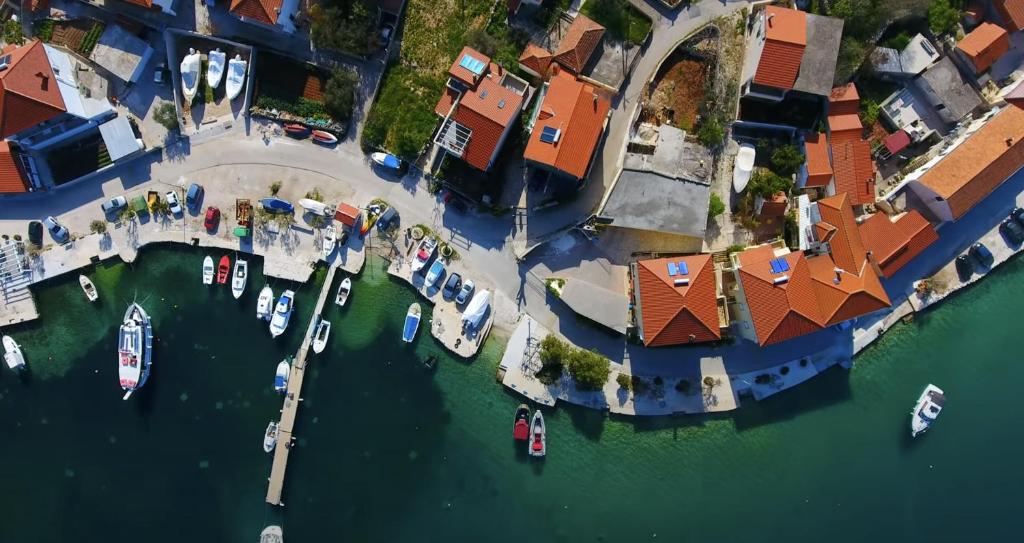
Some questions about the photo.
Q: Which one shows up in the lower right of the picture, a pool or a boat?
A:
boat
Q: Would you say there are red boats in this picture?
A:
Yes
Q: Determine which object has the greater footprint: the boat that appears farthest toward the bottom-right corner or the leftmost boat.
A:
the boat that appears farthest toward the bottom-right corner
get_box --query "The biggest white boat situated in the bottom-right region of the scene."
[910,383,948,438]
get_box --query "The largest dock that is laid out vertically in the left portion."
[266,264,338,505]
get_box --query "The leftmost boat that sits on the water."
[1,335,26,372]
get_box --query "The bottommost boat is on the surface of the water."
[260,504,284,543]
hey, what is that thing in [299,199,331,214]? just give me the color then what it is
white boat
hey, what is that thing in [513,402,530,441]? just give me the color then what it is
red boat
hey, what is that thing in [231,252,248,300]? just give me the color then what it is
white boat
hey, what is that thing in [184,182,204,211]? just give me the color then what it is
blue car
